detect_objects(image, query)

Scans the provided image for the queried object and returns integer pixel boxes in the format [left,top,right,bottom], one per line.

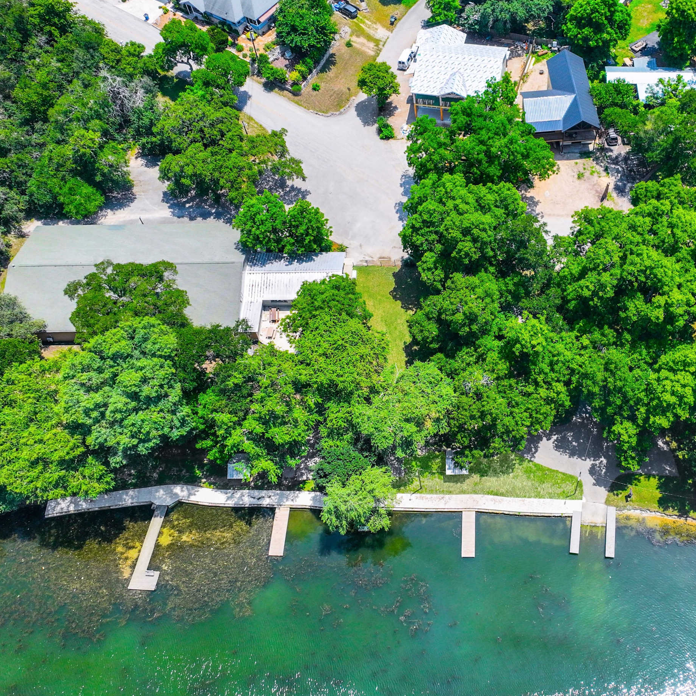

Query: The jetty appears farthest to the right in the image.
[604,510,616,559]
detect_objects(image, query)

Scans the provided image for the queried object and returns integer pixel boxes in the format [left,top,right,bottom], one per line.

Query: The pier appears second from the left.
[269,507,290,557]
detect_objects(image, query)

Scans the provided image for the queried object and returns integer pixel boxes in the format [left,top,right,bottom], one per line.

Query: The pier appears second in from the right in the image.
[568,512,582,555]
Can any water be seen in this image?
Yes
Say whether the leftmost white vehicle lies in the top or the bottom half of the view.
top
